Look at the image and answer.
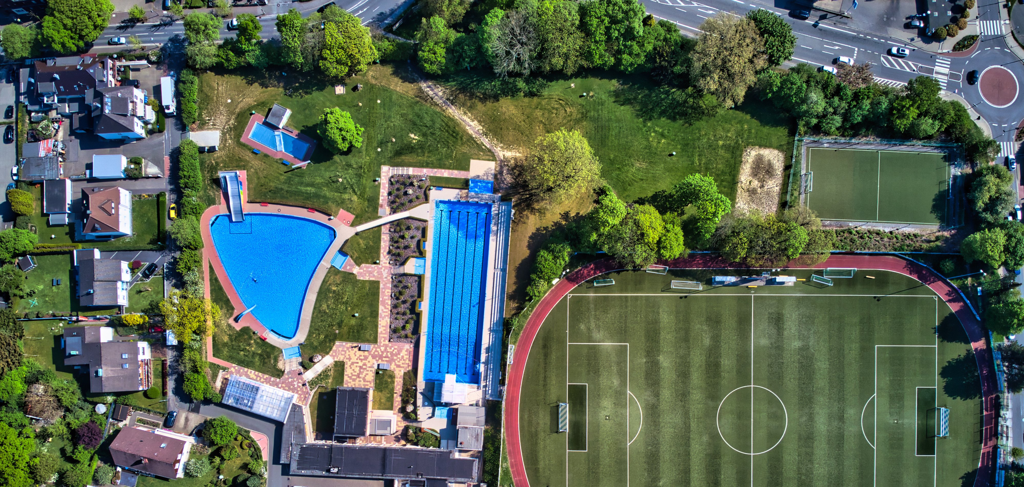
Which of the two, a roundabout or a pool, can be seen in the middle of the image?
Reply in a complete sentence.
The one visible in the middle of the image is a pool.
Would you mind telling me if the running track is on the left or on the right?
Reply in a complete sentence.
It is on the right.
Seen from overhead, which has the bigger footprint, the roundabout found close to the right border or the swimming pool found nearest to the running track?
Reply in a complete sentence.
The swimming pool takes up more space than the roundabout does.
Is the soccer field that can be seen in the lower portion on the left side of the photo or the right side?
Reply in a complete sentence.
You can find the soccer field that can be seen in the lower portion on the right side of the picture.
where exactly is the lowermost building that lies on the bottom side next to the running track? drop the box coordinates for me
[290,441,478,487]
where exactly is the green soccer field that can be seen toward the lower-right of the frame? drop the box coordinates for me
[519,269,983,487]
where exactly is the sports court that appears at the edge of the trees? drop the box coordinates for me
[733,145,787,215]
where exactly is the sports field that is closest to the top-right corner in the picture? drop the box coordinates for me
[805,145,952,227]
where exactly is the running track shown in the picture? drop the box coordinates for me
[504,254,1000,487]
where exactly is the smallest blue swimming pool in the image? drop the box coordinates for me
[248,120,311,161]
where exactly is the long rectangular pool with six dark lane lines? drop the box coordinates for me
[421,198,495,386]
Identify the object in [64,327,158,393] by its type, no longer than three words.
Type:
house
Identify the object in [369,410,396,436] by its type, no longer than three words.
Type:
building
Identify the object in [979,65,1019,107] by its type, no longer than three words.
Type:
roundabout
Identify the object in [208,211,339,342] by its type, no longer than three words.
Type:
swimming pool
